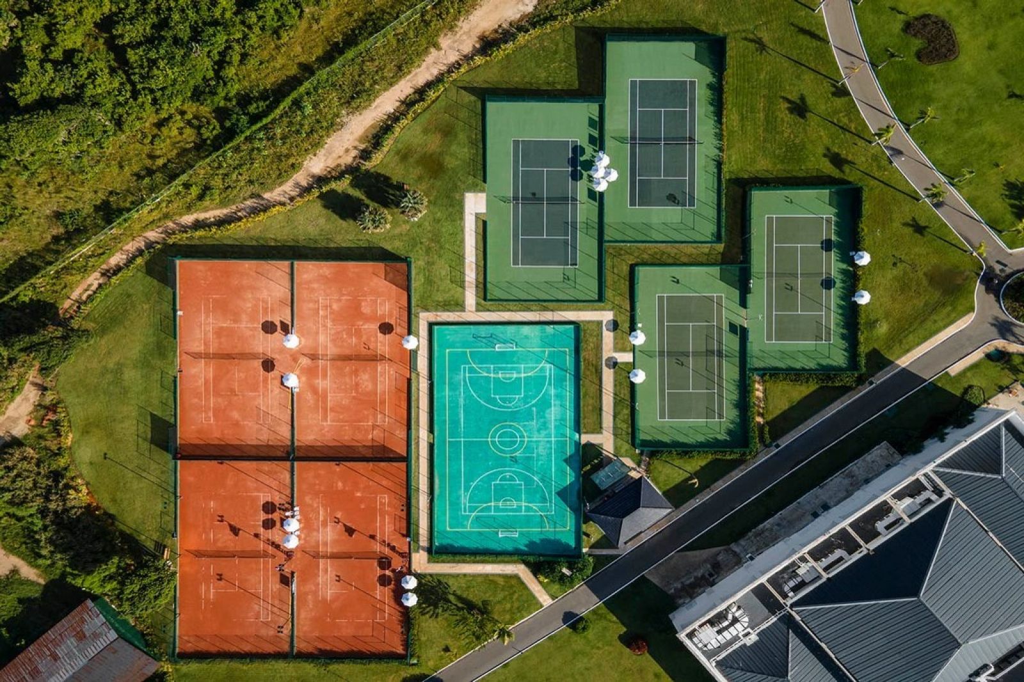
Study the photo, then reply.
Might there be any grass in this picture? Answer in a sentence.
Yes, the picture does contain grass.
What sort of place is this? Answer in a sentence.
The picture captures a sports ground.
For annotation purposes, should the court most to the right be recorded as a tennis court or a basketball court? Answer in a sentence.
From above, the court most to the right can be identified as a tennis court.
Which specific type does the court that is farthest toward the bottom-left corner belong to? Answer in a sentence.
The court that is farthest toward the bottom-left corner can be classified as a tennis court.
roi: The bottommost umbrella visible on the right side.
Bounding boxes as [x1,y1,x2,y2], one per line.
[628,368,645,383]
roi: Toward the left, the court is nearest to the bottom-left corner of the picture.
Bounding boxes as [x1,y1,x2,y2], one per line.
[178,462,293,657]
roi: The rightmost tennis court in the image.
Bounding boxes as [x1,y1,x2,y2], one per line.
[751,190,858,371]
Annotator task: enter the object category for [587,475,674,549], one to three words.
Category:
building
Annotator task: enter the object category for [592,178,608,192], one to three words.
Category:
umbrella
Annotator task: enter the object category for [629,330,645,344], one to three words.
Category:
umbrella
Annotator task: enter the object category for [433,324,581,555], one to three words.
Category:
sports court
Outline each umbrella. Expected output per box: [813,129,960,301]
[603,167,619,182]
[283,534,299,549]
[594,151,610,166]
[592,178,608,192]
[283,334,299,348]
[401,574,417,590]
[402,335,418,350]
[628,368,645,383]
[629,330,645,344]
[853,251,869,266]
[854,290,870,304]
[283,373,299,387]
[590,165,606,179]
[283,517,299,532]
[402,592,417,607]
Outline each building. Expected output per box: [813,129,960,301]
[668,408,1024,682]
[0,597,161,682]
[587,475,674,549]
